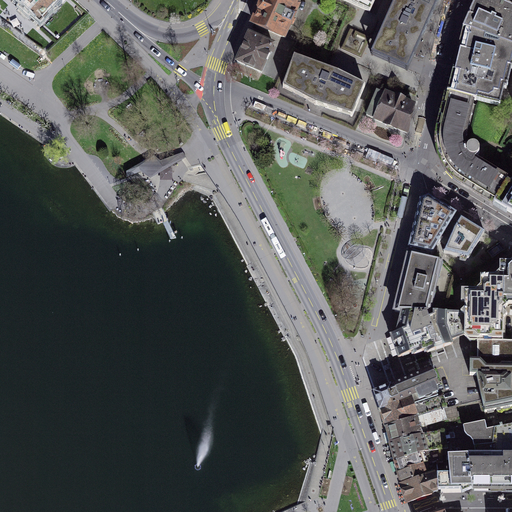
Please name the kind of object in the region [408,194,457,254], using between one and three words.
building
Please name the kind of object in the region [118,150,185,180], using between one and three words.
building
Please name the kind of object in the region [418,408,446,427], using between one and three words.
shed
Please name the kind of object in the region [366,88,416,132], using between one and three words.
house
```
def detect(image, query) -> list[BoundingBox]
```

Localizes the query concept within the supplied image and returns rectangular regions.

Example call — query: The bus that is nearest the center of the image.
[258,216,286,260]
